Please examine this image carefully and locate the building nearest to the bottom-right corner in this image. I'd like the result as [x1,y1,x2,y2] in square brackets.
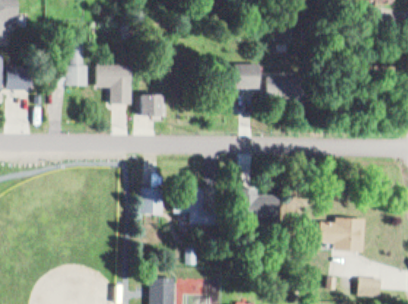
[358,276,381,297]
